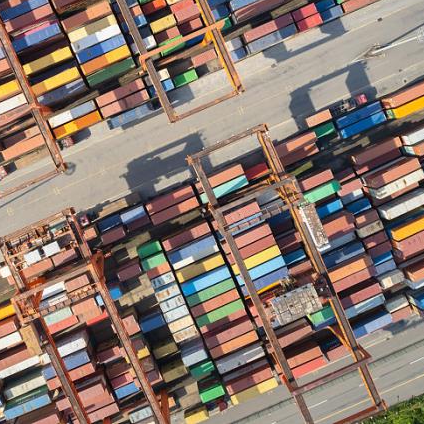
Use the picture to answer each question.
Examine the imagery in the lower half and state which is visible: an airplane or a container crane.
container crane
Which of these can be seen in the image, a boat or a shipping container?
shipping container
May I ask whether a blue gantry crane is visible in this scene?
No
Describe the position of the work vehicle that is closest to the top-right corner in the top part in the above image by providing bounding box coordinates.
[346,92,370,109]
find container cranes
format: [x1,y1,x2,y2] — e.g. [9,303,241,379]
[114,0,246,125]
[187,126,387,424]
[0,207,183,424]
[0,18,67,198]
